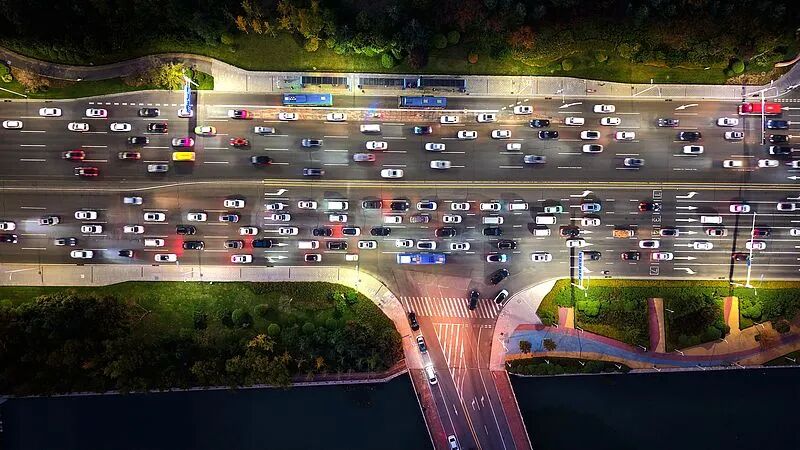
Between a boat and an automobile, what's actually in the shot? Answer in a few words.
automobile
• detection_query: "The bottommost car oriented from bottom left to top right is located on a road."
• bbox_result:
[492,288,509,307]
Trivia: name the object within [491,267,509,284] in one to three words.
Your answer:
car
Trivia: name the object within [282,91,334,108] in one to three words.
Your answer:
vehicle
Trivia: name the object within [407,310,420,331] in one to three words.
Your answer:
vehicle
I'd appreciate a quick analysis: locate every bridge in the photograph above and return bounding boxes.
[409,370,534,450]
